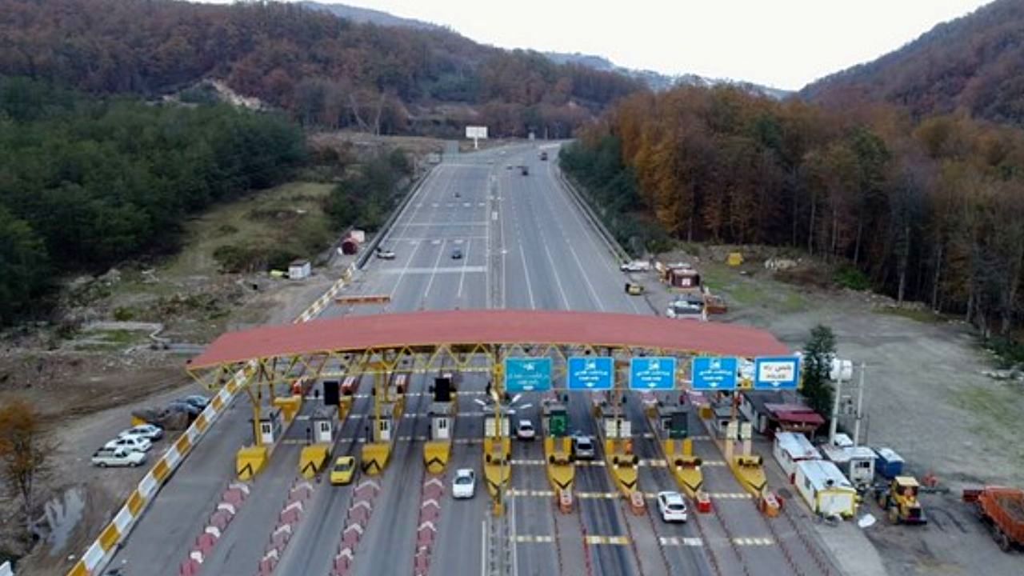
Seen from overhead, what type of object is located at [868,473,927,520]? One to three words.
work vehicle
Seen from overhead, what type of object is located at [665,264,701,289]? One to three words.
building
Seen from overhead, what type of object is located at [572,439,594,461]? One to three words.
car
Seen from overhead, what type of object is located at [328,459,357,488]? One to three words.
car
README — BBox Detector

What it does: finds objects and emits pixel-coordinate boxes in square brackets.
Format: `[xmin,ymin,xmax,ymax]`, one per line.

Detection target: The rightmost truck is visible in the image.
[960,487,1024,558]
